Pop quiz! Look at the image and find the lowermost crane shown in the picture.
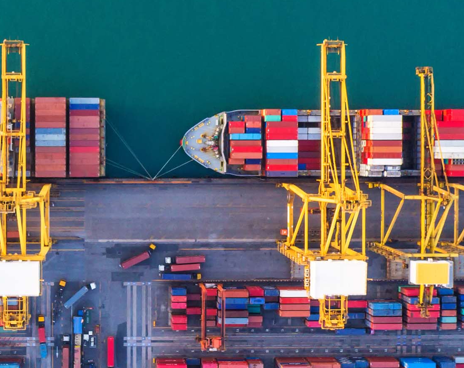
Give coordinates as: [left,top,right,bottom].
[195,281,227,355]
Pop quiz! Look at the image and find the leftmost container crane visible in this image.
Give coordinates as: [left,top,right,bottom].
[0,39,62,328]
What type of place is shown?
port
